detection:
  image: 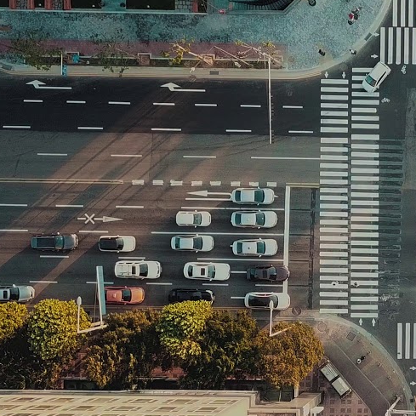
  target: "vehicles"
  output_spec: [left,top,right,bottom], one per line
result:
[168,287,216,305]
[232,238,278,257]
[171,233,216,252]
[115,260,164,280]
[99,234,138,253]
[184,262,232,282]
[176,209,214,228]
[0,284,38,303]
[244,290,292,311]
[30,232,81,251]
[106,285,148,306]
[363,59,392,94]
[231,210,279,228]
[231,186,278,205]
[247,264,290,283]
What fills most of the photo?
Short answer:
paved ground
